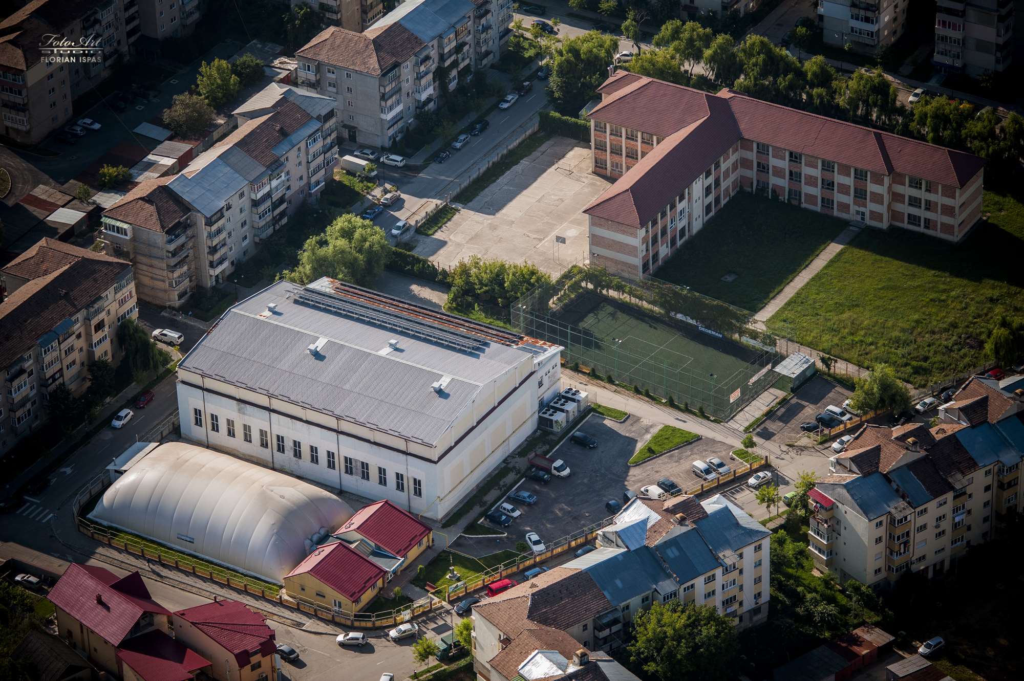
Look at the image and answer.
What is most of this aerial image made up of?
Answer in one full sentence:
The largest share of the image is taken up by buildings.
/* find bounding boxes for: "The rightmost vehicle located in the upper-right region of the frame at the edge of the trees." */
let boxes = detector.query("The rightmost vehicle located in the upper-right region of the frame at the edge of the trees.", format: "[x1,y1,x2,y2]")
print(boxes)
[974,104,996,120]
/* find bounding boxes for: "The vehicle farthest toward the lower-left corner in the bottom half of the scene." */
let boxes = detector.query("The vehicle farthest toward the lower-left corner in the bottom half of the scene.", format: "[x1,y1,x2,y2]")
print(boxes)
[13,573,44,589]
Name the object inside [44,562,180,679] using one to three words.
house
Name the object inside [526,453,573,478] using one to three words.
truck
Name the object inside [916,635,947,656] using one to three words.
car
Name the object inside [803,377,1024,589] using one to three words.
building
